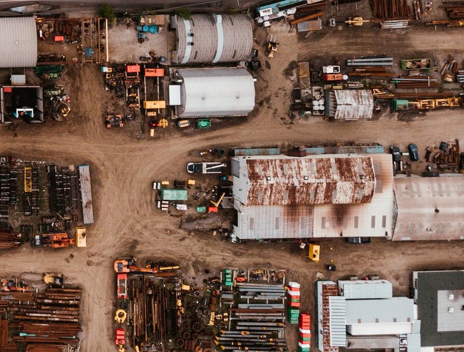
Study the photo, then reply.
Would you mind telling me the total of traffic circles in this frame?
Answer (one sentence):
Not a single traffic circle can be seen.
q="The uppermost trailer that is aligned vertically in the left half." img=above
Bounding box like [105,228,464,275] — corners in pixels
[78,163,94,224]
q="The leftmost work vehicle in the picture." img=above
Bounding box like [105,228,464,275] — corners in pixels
[0,276,32,291]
